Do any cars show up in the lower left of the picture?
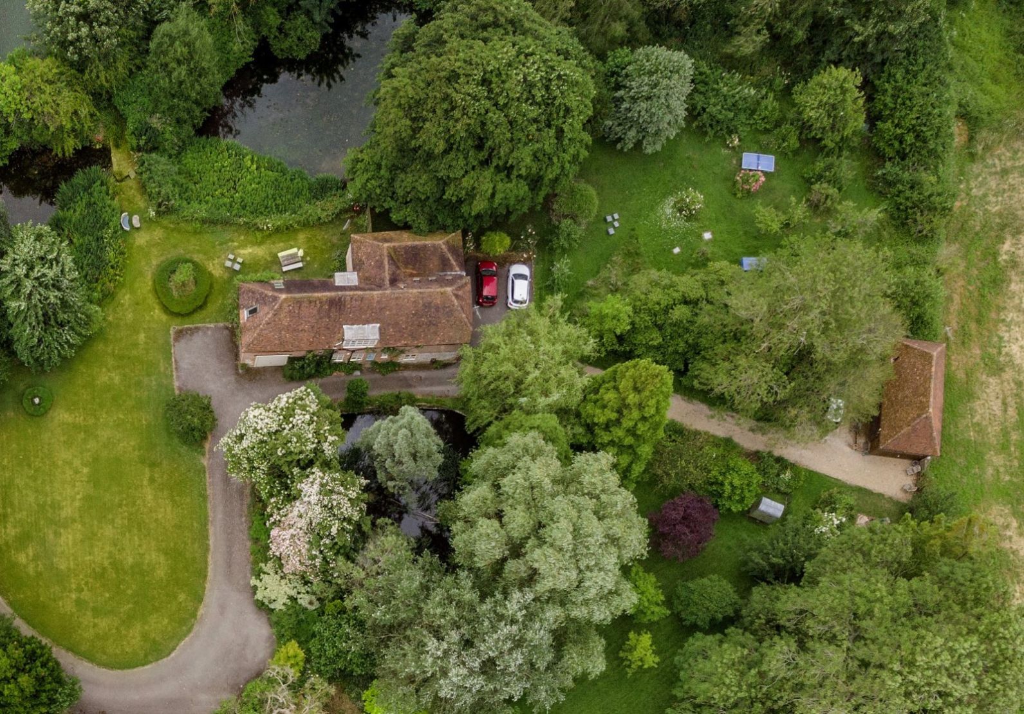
No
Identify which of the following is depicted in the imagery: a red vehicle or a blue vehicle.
red vehicle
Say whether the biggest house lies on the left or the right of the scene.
left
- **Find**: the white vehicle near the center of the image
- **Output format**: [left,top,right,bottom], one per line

[507,264,534,313]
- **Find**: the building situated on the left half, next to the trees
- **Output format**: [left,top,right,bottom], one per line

[239,229,473,368]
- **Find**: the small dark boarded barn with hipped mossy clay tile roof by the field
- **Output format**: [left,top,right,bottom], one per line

[868,337,946,460]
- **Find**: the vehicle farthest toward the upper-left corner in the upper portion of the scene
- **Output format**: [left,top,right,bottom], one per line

[477,261,502,308]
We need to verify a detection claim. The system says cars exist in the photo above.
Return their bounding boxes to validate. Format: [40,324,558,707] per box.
[477,261,502,308]
[507,264,534,313]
